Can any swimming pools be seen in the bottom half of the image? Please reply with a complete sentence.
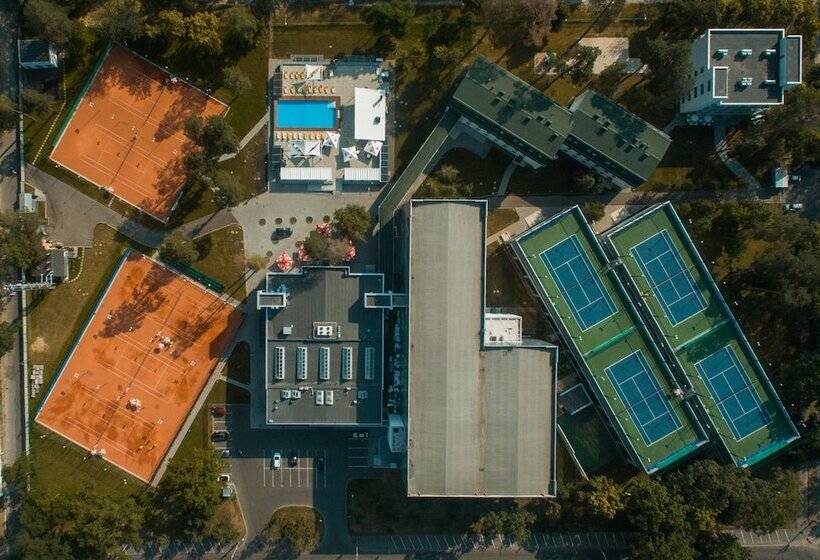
No, I can find no swimming pool in the bottom half of the image.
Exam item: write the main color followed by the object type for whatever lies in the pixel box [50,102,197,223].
orange tennis court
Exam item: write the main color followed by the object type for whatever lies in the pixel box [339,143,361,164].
white umbrella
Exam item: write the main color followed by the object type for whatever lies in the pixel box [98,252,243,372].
orange tennis court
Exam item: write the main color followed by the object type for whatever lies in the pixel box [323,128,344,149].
white umbrella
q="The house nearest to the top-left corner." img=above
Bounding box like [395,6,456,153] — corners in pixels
[19,39,58,67]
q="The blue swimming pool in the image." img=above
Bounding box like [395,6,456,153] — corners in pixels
[274,95,340,131]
